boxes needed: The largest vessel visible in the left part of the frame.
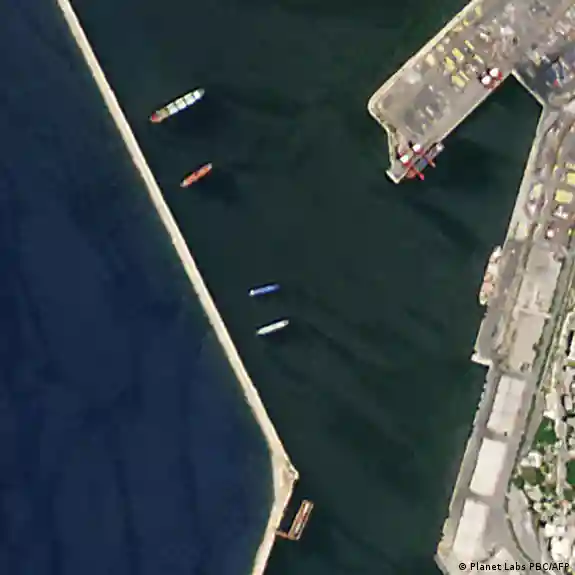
[149,90,205,122]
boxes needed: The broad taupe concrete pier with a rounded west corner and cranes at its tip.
[366,15,510,184]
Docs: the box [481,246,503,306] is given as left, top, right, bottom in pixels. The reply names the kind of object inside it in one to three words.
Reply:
ship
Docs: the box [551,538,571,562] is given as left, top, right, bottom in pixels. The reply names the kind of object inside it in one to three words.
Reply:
building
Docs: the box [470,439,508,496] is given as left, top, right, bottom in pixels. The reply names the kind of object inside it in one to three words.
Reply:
building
